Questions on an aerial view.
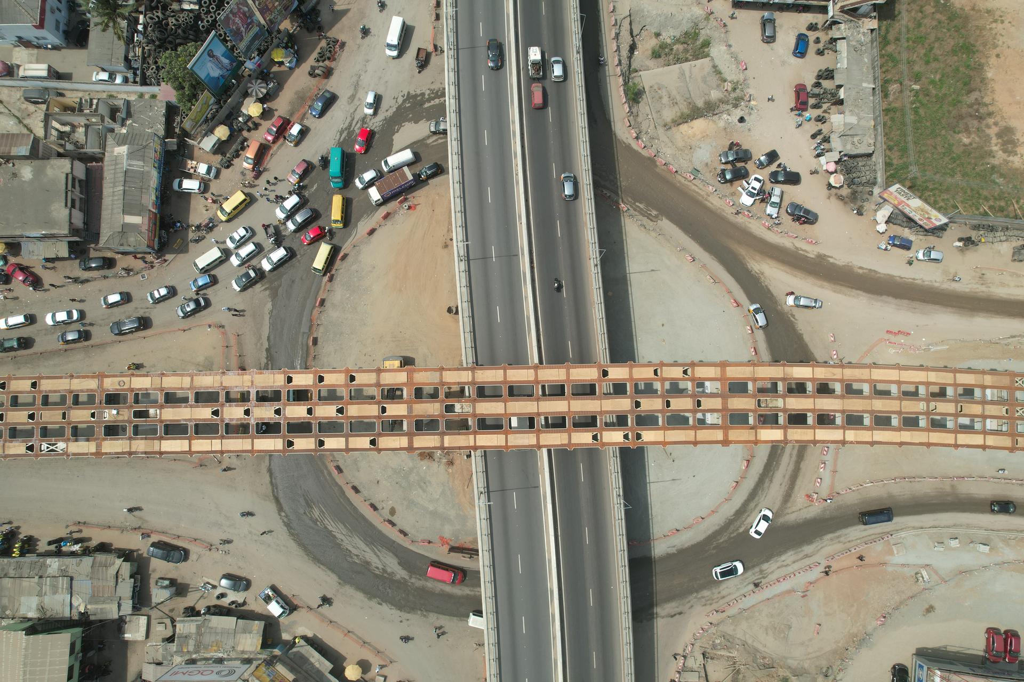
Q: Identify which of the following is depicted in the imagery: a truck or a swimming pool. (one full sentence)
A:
The image shows a truck.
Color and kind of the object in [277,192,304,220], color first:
white car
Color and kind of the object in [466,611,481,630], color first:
white vehicle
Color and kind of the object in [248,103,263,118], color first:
yellow umbrella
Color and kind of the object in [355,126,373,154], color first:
red car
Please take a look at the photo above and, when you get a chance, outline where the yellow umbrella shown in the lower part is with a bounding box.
[344,663,361,681]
